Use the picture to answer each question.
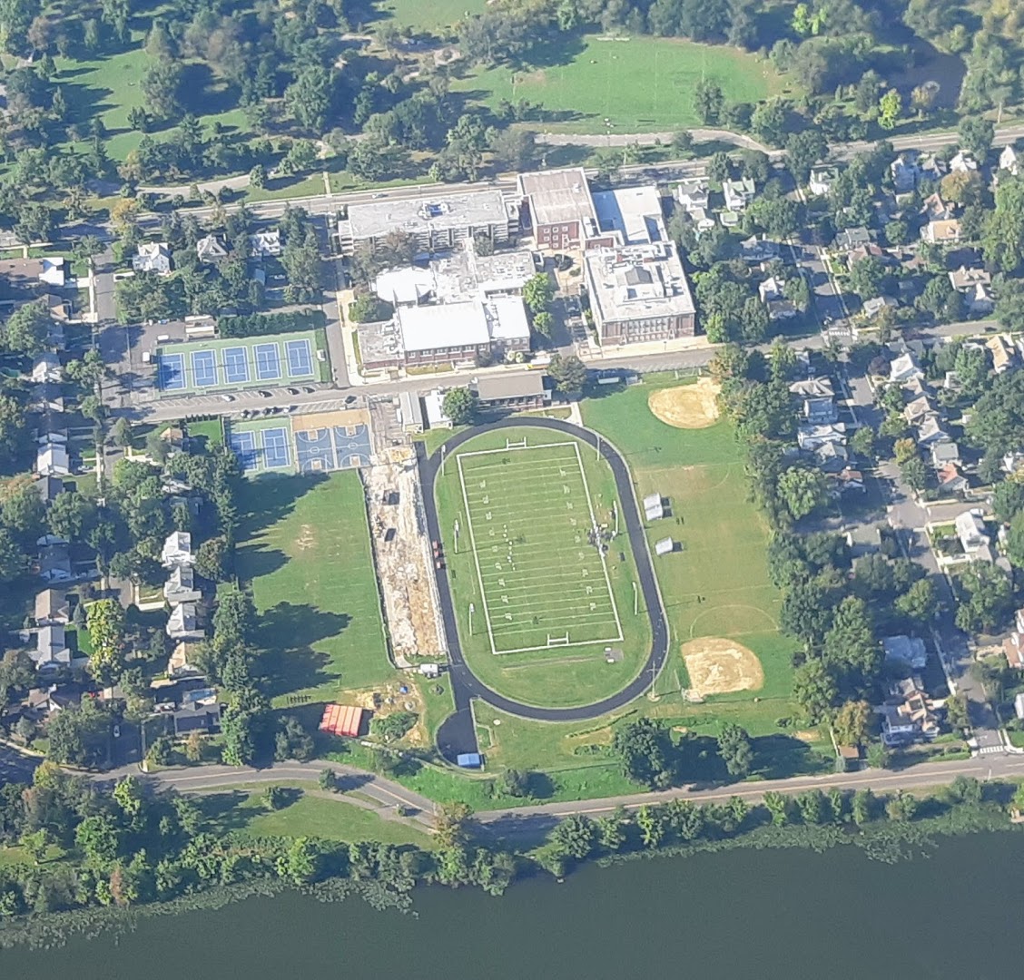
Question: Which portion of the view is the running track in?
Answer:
center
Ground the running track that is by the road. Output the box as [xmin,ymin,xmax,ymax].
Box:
[417,416,671,771]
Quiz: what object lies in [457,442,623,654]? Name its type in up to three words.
sports field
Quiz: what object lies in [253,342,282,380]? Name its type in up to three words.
tennis court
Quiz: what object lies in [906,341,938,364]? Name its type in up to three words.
house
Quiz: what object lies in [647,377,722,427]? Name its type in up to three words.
baseball field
